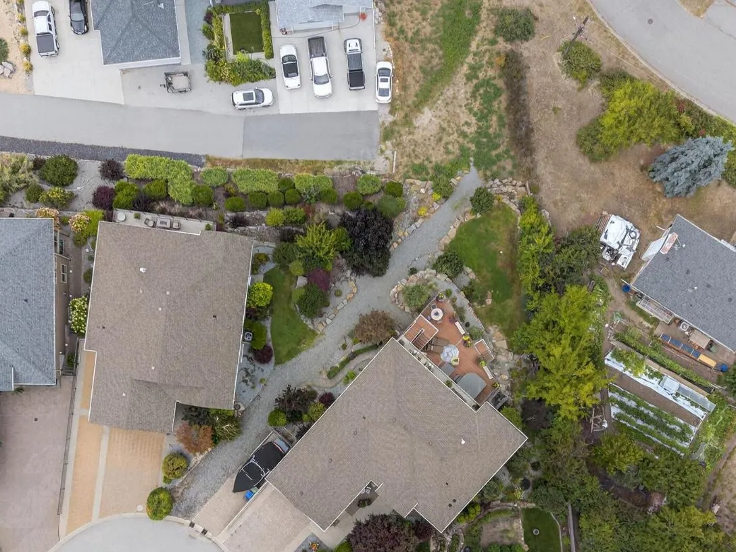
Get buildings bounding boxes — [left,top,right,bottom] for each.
[0,217,70,483]
[80,220,253,435]
[265,337,528,534]
[95,0,184,77]
[276,0,375,41]
[629,214,736,353]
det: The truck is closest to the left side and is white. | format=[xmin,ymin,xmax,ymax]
[31,0,61,61]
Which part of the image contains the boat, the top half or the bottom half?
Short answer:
bottom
